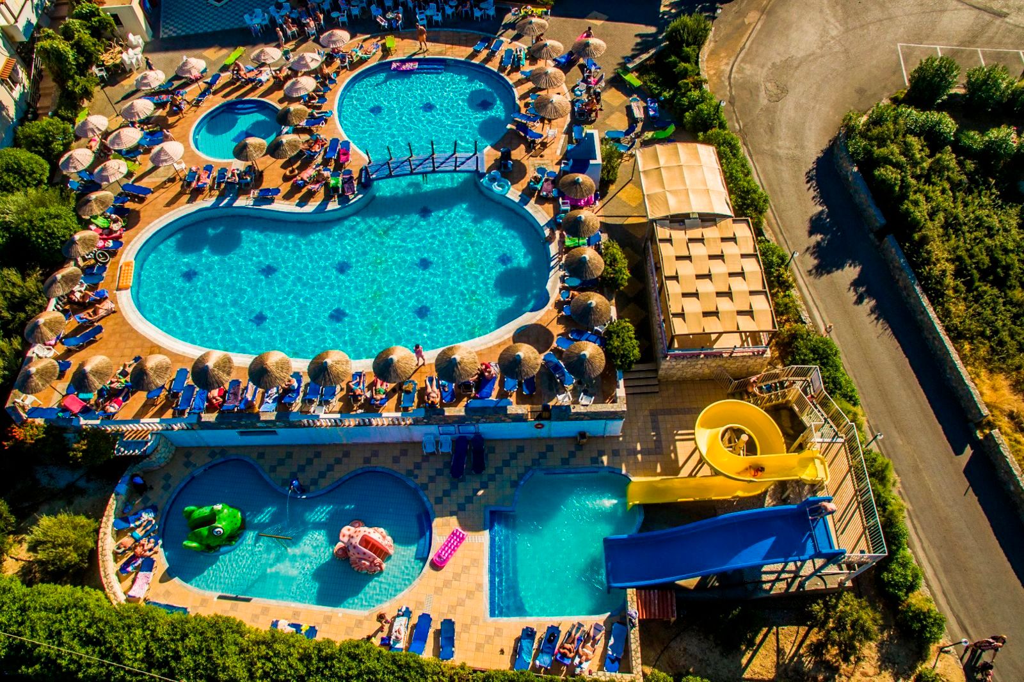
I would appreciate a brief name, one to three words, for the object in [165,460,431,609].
swimming pool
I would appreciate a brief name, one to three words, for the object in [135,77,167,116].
umbrella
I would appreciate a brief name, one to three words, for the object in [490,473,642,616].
swimming pool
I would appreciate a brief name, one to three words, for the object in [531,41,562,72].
umbrella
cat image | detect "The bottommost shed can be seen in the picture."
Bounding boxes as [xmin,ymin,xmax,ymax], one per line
[636,589,675,624]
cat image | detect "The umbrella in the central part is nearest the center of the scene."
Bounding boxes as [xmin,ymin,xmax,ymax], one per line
[501,345,539,385]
